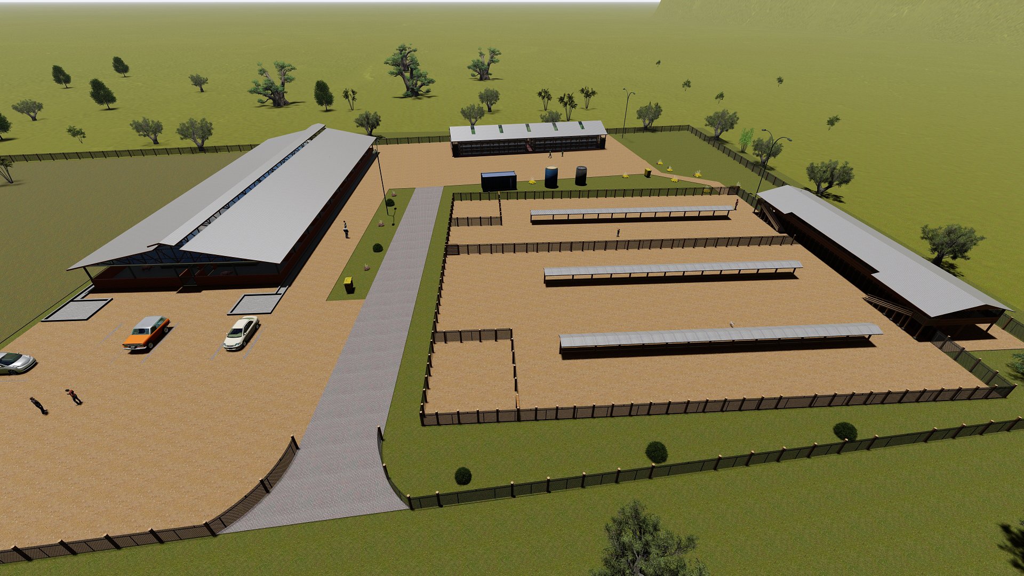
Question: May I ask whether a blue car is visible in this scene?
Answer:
No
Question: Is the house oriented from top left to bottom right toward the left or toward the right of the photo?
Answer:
right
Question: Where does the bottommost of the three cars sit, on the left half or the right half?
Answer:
left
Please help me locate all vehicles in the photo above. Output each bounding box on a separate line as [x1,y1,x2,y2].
[120,315,170,351]
[222,315,259,348]
[0,350,36,372]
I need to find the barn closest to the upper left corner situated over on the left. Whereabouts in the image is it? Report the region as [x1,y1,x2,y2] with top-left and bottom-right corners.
[67,122,376,287]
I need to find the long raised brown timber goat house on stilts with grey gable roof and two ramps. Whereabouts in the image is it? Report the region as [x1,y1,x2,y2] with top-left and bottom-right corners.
[753,185,1020,338]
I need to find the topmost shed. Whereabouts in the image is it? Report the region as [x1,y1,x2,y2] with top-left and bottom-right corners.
[448,120,607,156]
